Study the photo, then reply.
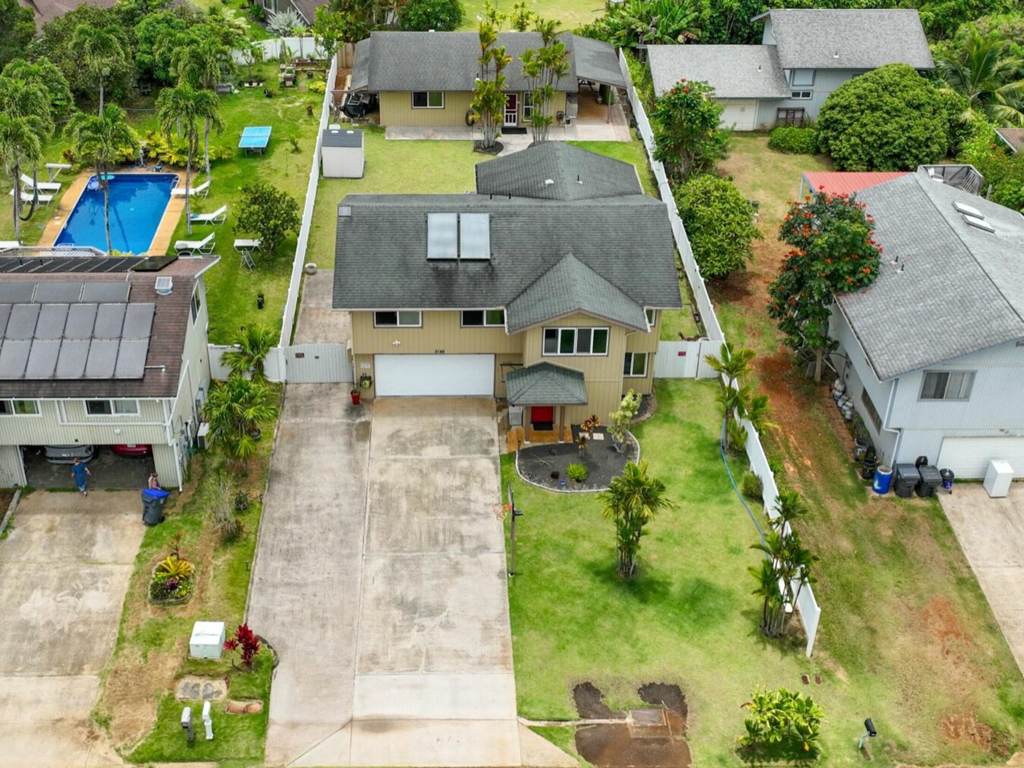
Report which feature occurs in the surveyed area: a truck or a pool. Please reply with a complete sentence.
It is a pool that can be seen here.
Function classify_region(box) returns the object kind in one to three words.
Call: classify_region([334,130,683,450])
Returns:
house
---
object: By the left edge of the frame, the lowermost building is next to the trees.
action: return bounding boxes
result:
[0,255,222,490]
